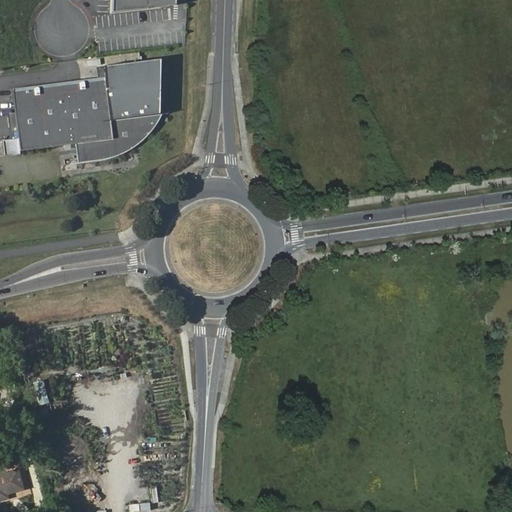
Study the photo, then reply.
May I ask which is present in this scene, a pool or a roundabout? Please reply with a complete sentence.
There is a roundabout in the scene.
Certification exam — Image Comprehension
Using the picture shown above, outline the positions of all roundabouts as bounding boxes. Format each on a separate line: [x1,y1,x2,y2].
[145,178,285,315]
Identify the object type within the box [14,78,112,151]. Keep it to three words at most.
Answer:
building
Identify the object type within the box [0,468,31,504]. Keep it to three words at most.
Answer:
house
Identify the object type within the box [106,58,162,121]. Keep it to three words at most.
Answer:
building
